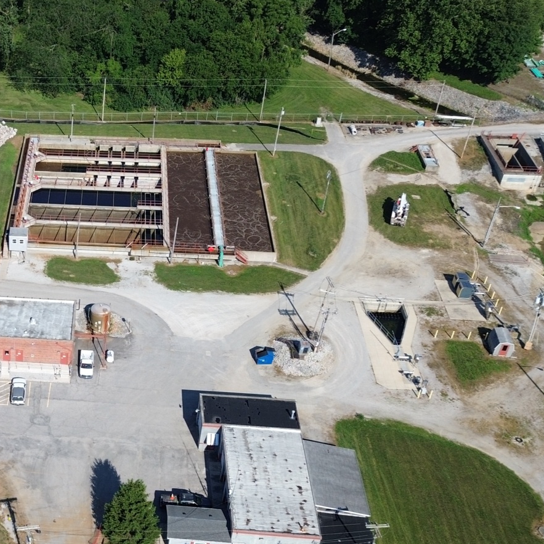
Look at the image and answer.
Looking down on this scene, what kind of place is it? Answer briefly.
industrial area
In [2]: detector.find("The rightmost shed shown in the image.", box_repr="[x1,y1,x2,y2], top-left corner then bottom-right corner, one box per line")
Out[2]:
[489,323,515,357]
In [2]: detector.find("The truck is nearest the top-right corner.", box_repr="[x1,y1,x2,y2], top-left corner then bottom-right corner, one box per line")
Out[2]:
[390,181,412,218]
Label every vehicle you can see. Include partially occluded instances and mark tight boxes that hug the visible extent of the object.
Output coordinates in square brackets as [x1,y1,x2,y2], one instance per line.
[390,181,412,218]
[155,491,210,512]
[77,348,97,380]
[9,379,28,404]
